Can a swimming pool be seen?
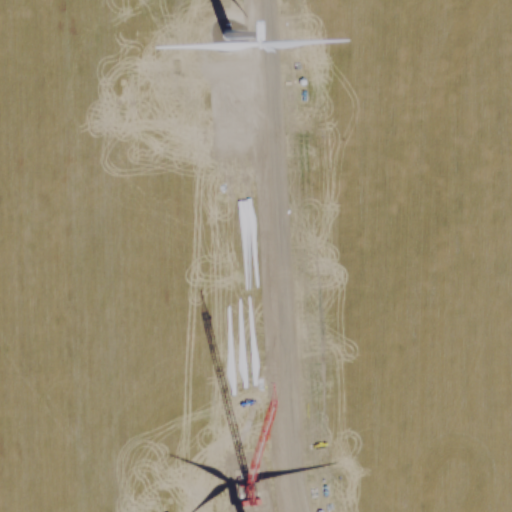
No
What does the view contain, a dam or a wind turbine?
wind turbine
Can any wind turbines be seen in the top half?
Yes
